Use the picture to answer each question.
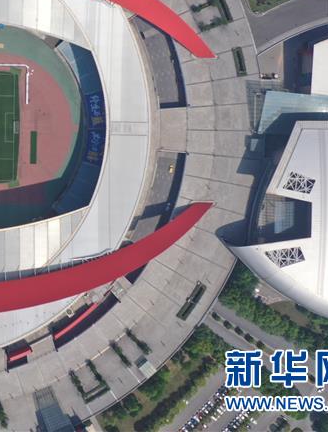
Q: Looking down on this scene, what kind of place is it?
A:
sports ground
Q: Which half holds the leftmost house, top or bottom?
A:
bottom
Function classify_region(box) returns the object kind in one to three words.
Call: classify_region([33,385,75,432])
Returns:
house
